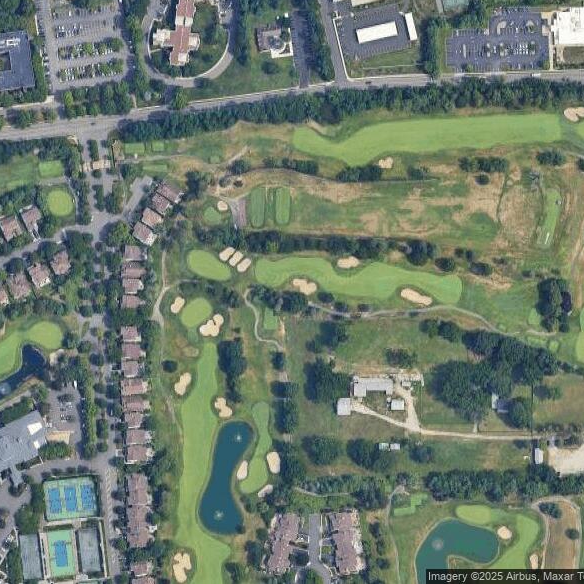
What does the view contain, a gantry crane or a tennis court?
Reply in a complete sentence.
Of the two, only a tennis court appears.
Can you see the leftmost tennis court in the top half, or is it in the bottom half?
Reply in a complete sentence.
The bottom half of the photo is where the leftmost tennis court is.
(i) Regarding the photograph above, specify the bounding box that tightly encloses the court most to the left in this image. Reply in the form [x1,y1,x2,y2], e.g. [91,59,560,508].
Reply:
[20,534,42,580]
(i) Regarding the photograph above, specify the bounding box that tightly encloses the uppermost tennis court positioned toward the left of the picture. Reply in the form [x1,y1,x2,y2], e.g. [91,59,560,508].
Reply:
[44,478,98,521]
